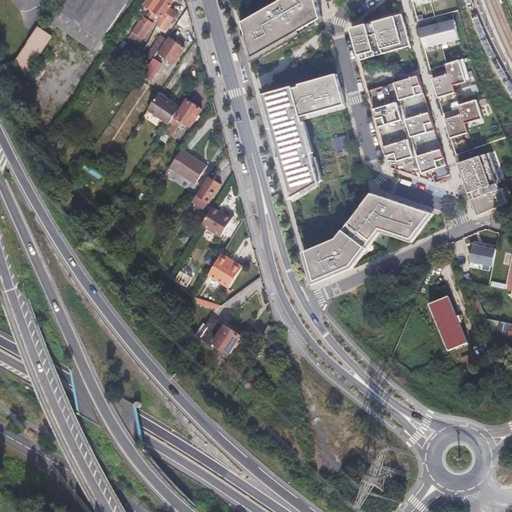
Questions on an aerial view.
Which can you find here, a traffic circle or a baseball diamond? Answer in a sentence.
Visible in the photo is a traffic circle.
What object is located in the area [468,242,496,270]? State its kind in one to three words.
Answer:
house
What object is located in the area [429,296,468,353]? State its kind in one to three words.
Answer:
building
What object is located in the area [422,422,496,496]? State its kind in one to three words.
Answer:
roundabout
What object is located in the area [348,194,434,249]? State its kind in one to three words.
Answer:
building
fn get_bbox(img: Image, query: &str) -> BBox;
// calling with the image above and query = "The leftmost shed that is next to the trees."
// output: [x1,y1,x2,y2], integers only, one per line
[16,26,52,70]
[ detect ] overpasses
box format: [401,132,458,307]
[0,222,126,512]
